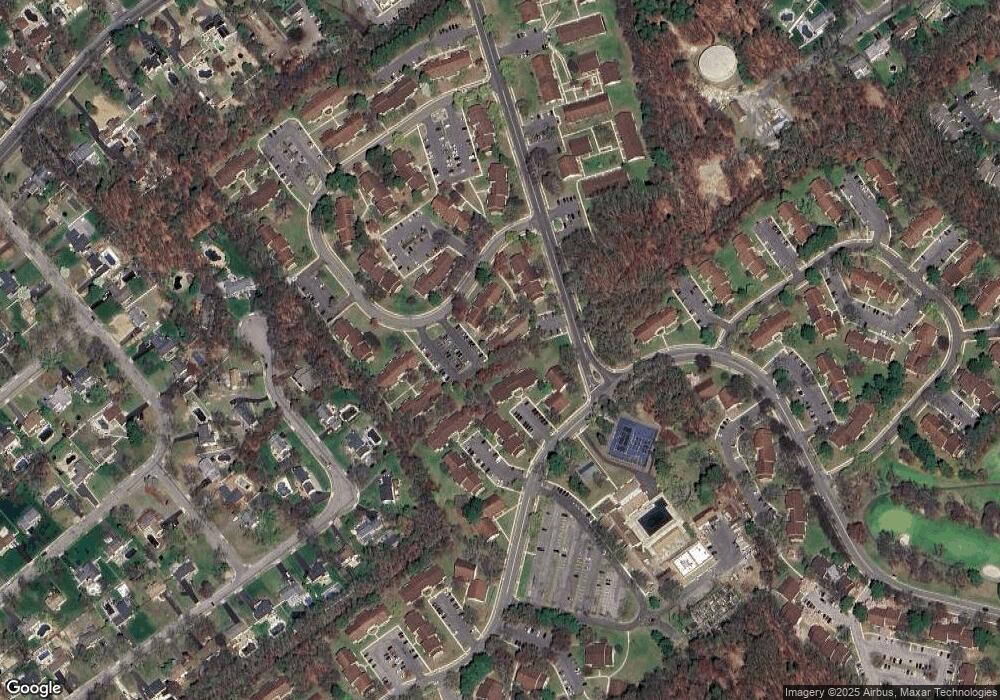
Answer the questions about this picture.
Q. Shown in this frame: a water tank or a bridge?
water tank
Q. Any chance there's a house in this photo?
Yes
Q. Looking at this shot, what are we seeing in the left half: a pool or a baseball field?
pool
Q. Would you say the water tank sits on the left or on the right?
right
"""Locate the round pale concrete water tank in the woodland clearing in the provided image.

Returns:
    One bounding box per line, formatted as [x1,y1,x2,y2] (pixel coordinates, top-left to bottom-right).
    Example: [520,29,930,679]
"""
[698,47,735,84]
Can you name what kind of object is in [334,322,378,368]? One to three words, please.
building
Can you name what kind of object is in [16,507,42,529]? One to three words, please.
house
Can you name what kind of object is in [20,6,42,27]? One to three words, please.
swimming pool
